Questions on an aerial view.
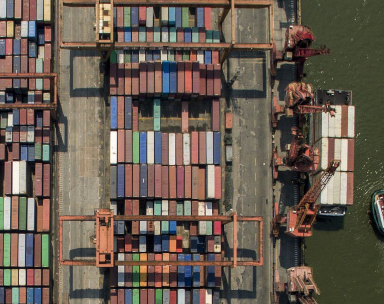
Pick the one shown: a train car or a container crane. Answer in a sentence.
This aerial view contains a container crane.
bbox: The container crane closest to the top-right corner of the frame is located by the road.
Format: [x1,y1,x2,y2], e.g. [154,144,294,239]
[273,18,335,77]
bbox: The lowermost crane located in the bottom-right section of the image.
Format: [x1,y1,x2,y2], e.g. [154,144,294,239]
[273,266,321,304]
